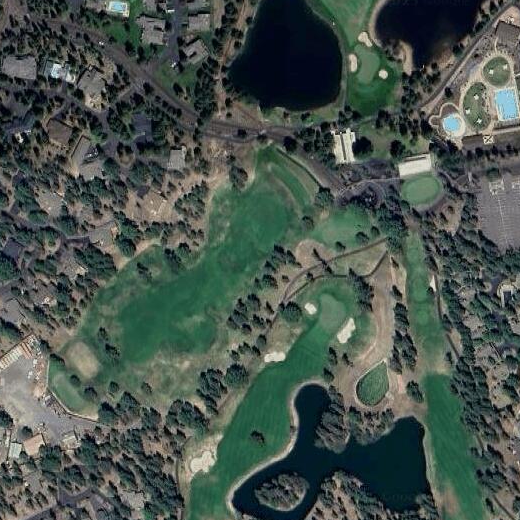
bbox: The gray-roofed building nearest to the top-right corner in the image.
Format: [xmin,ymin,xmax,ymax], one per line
[495,22,520,44]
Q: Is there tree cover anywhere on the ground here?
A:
Yes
